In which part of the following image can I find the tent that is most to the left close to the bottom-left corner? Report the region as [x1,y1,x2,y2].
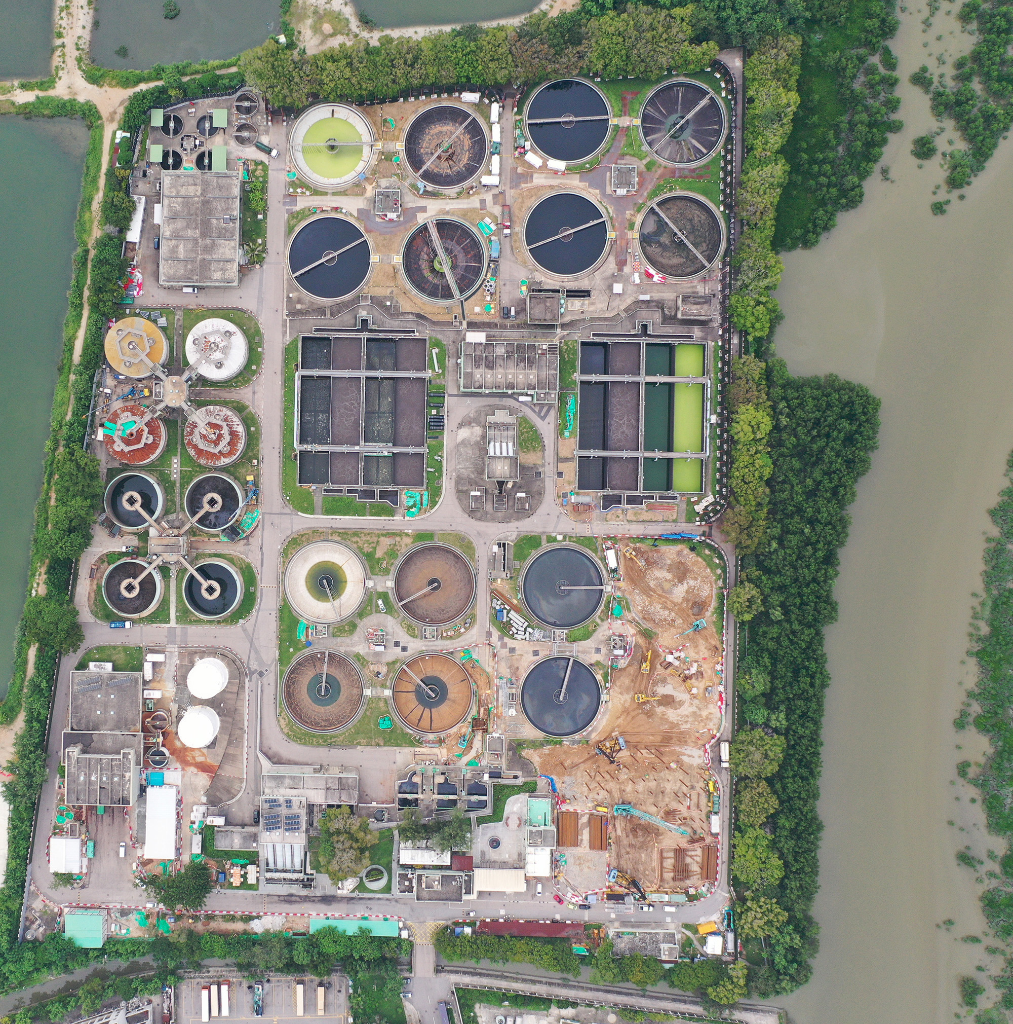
[50,834,86,873]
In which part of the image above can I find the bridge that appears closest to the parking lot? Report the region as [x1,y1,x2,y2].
[413,942,437,977]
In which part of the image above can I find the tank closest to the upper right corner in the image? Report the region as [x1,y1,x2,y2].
[632,78,728,171]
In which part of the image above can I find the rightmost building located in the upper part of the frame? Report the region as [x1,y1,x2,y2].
[678,295,713,321]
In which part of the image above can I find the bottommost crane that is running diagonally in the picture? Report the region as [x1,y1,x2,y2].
[609,865,652,906]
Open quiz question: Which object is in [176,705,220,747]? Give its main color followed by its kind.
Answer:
white storage tank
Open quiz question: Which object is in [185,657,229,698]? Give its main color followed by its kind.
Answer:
white storage tank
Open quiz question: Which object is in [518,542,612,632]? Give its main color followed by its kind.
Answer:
gray storage tank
